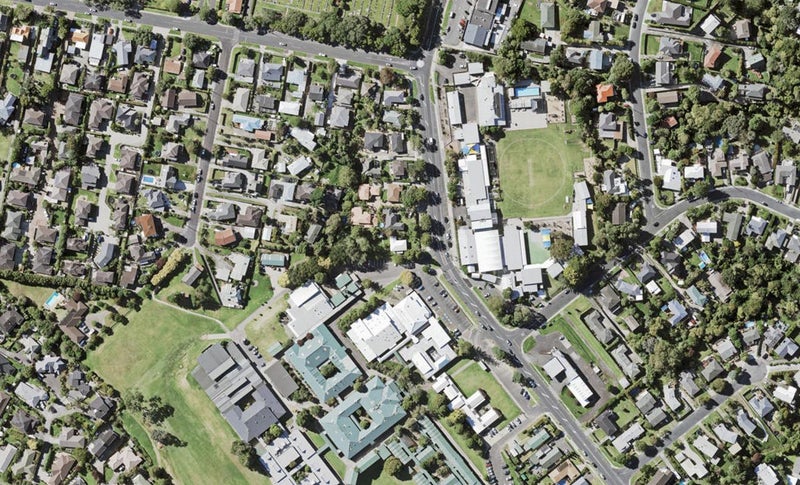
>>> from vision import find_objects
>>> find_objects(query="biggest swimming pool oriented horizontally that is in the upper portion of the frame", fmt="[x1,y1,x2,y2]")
[512,84,542,99]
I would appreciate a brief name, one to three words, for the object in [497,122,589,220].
sports field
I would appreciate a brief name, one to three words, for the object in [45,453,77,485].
house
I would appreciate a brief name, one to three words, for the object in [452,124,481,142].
building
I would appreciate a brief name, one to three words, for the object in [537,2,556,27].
house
